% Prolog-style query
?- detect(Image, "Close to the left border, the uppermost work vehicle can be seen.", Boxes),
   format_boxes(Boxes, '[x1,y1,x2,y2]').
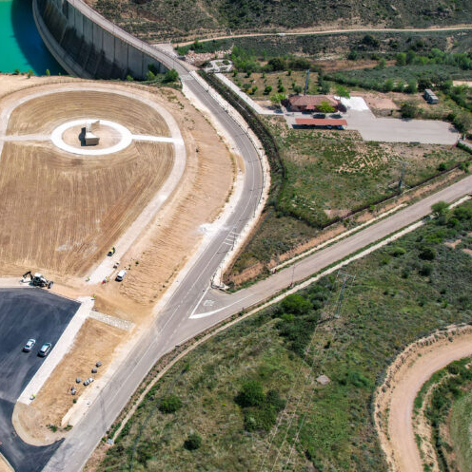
[20,269,54,288]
